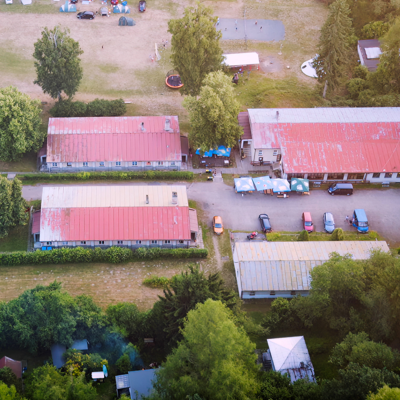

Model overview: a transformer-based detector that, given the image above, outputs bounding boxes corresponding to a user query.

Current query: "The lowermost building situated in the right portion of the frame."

[260,336,315,393]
